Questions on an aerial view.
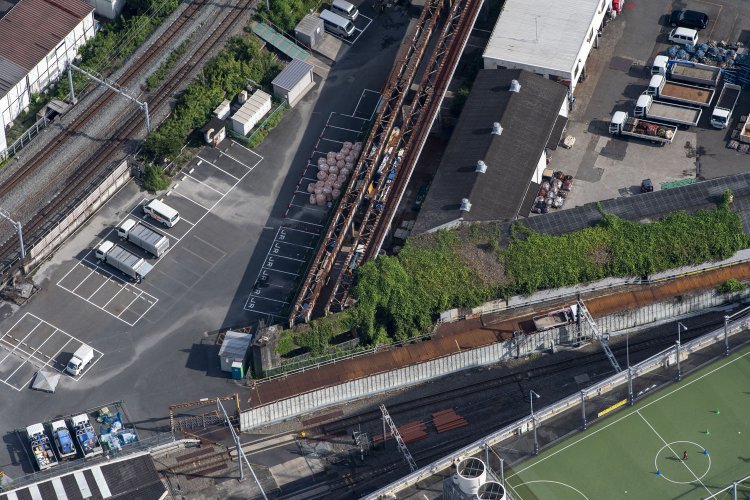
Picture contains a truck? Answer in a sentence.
Yes, the picture does show a truck.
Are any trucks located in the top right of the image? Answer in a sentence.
Yes, you'll find a truck in the top right of the image.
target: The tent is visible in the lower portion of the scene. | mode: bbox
[32,373,62,397]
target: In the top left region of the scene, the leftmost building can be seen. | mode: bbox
[0,0,97,131]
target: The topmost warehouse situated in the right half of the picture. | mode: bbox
[479,0,611,114]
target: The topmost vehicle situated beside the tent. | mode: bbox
[66,337,97,372]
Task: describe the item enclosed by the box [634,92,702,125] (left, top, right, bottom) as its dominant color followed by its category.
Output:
gray truck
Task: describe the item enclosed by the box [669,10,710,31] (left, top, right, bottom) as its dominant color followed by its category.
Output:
black car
